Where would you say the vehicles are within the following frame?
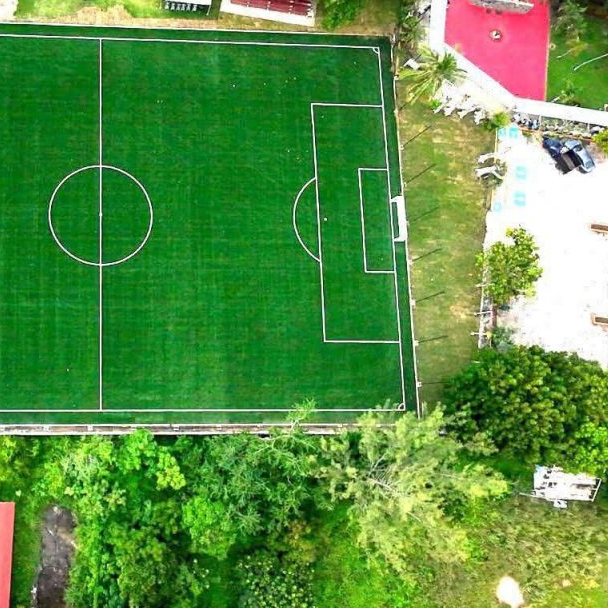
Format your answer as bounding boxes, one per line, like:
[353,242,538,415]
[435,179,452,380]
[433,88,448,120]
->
[570,138,602,176]
[545,133,583,178]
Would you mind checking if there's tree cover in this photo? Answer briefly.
Yes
